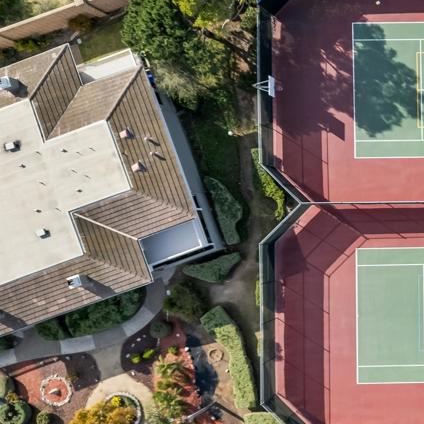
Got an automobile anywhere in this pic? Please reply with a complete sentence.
No, there appears to be no automobile in this shot.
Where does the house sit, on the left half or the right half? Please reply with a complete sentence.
The house appears in the left half of the scene.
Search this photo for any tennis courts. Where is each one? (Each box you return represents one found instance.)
[270,0,424,208]
[273,207,424,424]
